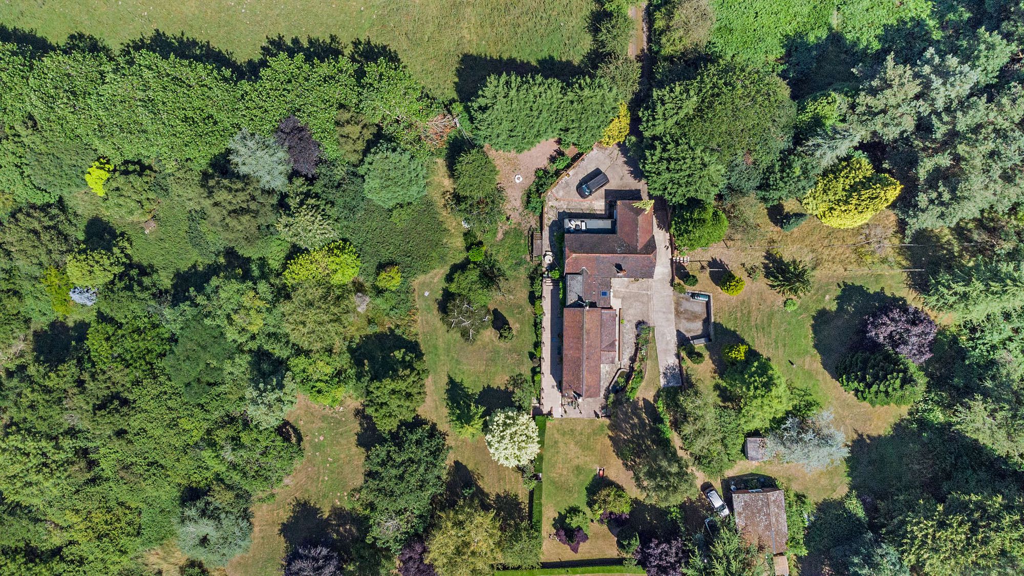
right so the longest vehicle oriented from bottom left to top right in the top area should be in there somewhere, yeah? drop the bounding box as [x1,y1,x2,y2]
[577,172,611,200]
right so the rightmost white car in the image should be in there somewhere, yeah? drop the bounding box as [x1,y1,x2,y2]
[702,485,729,517]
